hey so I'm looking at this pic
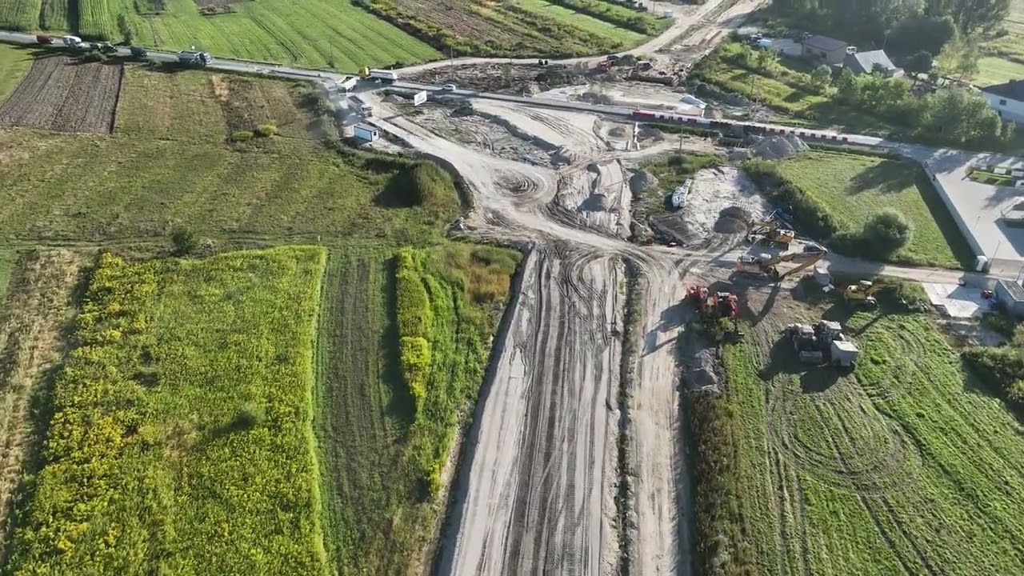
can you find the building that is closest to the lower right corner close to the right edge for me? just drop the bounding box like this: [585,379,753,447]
[994,277,1024,320]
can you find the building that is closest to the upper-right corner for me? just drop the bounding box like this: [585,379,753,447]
[987,75,1024,119]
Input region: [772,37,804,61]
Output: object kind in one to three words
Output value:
shed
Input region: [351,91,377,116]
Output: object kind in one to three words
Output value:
truck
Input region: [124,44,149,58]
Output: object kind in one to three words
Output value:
vehicle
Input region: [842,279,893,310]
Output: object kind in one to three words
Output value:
work vehicle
